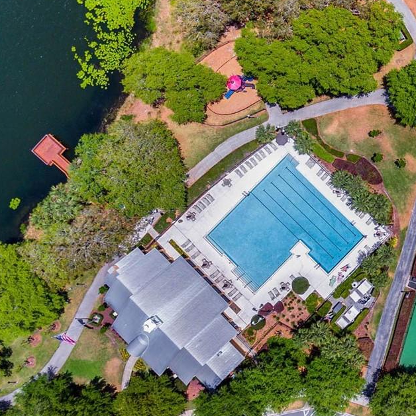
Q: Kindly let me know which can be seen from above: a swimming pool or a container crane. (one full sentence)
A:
I can see a swimming pool in this picture.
